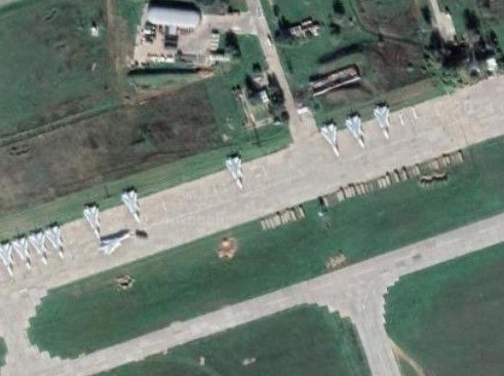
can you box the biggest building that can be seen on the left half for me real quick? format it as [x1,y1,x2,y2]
[147,2,202,34]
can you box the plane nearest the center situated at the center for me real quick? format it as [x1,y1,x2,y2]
[227,156,242,188]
